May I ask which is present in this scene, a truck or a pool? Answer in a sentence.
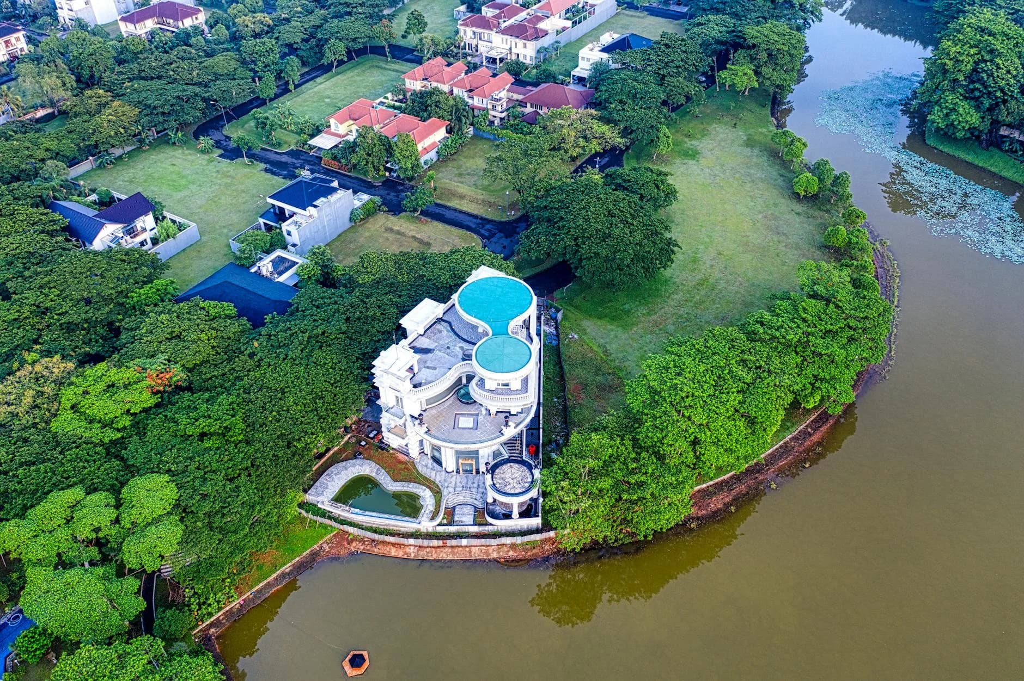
Of the two, only a pool appears.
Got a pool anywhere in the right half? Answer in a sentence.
No, looking in the right half, there is no pool.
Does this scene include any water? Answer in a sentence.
Yes, there's water in this view.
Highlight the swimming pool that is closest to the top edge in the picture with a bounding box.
[308,460,436,535]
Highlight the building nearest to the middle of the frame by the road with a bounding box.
[368,266,545,521]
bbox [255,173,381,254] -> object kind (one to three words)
house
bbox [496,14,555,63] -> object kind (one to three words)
house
